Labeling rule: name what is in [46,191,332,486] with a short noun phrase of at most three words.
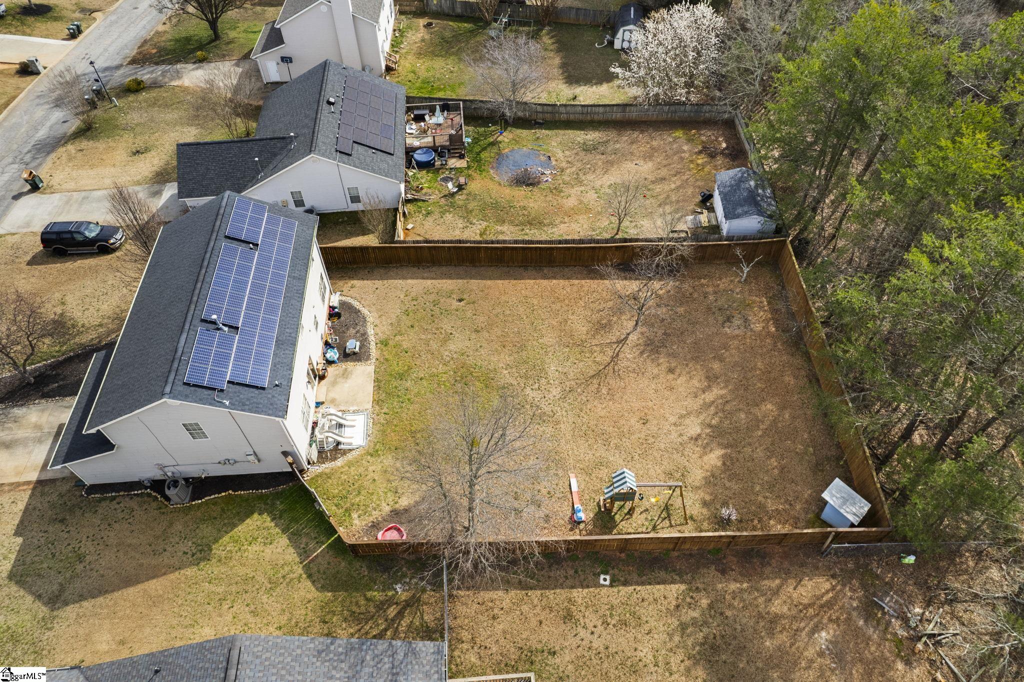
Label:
house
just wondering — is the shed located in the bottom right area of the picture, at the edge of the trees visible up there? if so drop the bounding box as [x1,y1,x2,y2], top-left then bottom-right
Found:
[816,480,878,531]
